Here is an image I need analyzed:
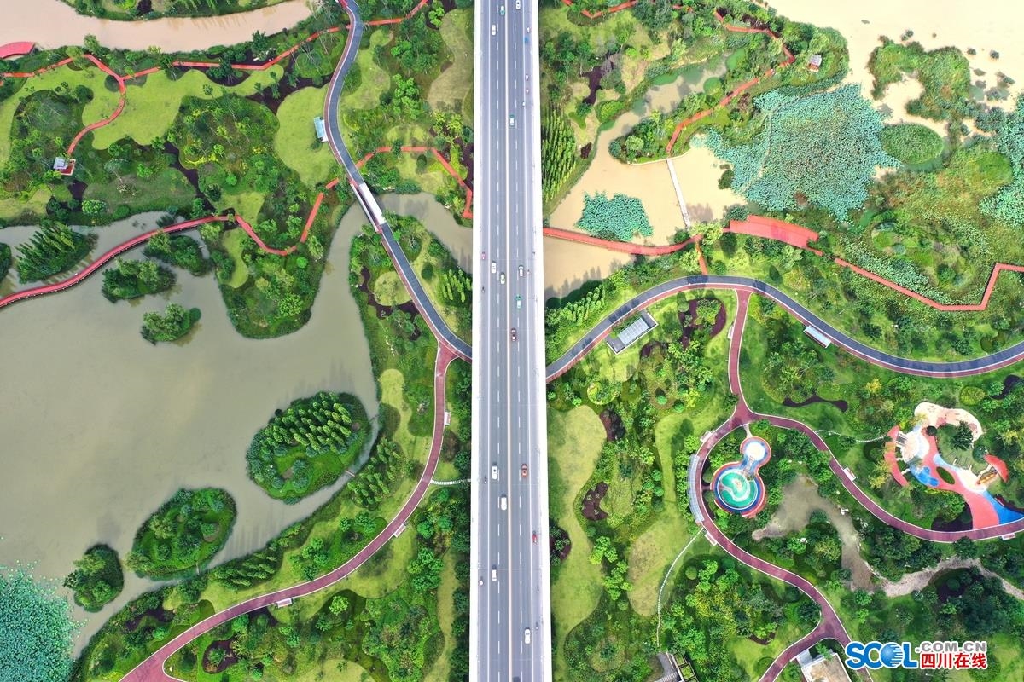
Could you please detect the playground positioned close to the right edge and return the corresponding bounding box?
[902,402,1024,532]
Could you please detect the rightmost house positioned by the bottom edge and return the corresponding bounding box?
[795,649,853,682]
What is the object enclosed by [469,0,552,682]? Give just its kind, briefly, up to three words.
bridge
